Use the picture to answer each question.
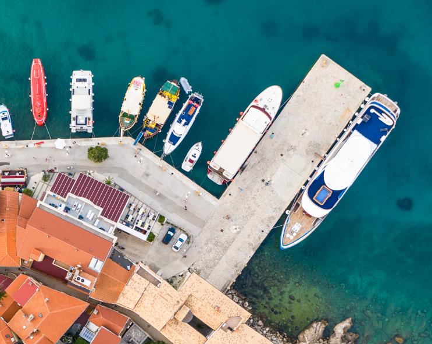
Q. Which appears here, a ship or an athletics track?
ship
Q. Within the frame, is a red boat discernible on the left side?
Yes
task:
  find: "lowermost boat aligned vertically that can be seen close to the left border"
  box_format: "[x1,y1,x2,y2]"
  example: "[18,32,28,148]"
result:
[0,104,15,140]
